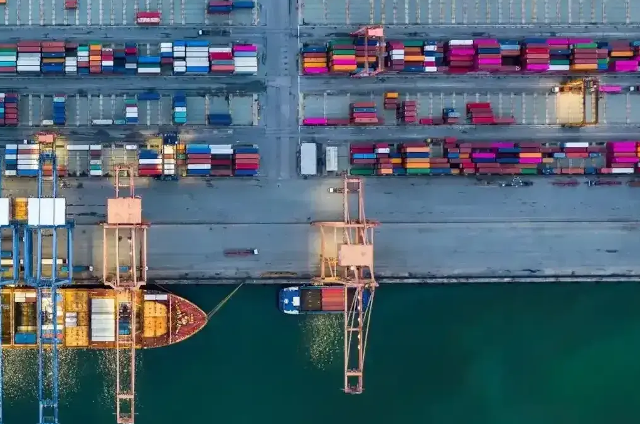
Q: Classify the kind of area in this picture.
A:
port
